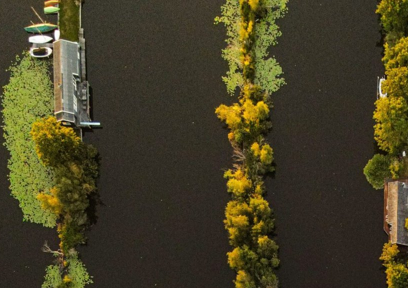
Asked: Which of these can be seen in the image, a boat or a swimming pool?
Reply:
boat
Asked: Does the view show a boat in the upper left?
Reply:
Yes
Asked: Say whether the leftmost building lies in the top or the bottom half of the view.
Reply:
top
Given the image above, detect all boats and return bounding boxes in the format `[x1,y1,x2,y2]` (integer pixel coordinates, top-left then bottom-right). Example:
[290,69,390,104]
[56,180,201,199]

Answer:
[25,18,53,44]
[44,0,60,6]
[29,47,52,57]
[44,6,60,14]
[378,77,386,99]
[24,8,57,32]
